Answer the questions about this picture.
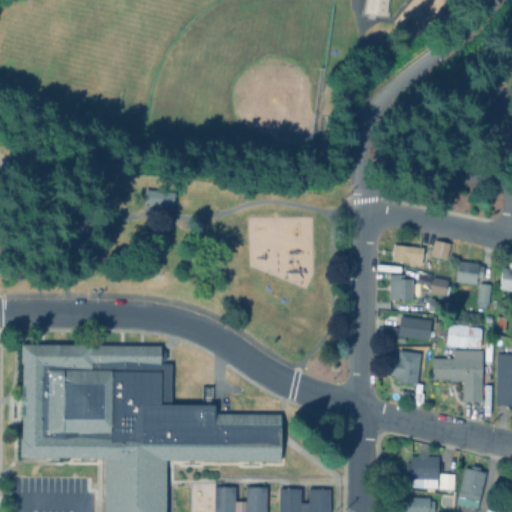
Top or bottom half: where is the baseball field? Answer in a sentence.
It is in the top half that the baseball field appears.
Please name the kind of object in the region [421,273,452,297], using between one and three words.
house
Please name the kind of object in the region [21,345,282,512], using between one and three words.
building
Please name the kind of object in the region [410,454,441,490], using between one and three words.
house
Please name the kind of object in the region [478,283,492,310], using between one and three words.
building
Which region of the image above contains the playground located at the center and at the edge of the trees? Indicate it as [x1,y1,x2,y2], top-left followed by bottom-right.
[249,217,314,288]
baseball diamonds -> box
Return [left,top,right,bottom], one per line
[148,0,334,160]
